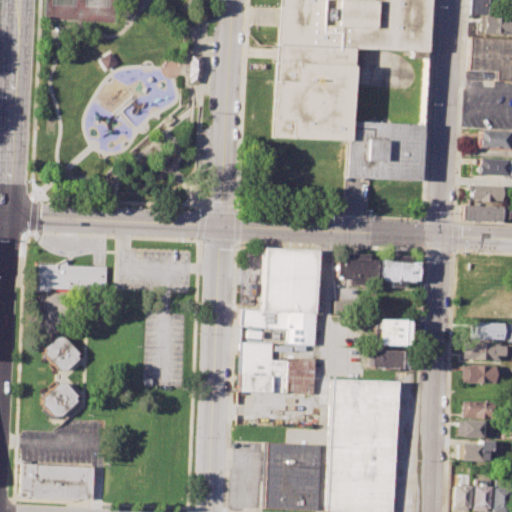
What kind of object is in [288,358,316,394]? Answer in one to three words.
shed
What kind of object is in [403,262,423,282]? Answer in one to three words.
house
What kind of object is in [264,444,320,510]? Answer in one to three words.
building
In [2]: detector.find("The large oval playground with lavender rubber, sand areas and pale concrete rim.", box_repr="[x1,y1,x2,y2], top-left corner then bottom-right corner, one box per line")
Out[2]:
[82,61,182,156]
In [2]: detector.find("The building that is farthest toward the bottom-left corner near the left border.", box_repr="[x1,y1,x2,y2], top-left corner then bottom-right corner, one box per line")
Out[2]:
[17,466,96,500]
